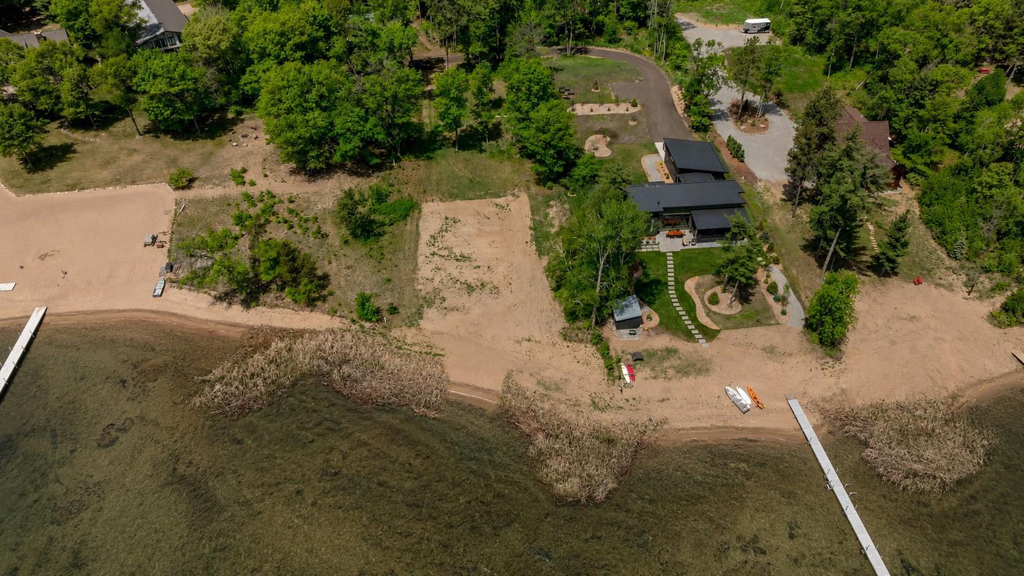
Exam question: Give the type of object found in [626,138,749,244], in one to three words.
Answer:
house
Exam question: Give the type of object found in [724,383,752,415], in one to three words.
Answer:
boat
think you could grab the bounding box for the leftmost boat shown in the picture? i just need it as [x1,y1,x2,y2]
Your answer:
[151,274,164,296]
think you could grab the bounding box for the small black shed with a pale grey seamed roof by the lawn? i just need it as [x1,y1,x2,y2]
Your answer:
[611,294,646,331]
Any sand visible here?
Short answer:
Yes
